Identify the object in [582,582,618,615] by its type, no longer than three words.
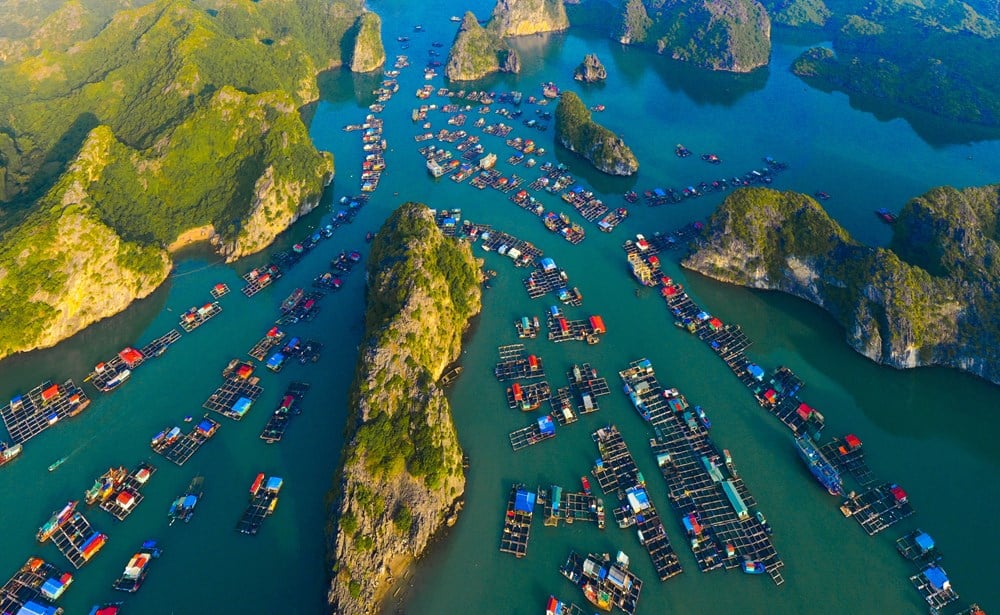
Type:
boat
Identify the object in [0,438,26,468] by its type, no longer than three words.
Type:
boat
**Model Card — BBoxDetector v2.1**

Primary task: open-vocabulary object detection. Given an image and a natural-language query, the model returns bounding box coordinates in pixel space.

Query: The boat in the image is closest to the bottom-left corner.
[29,497,81,541]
